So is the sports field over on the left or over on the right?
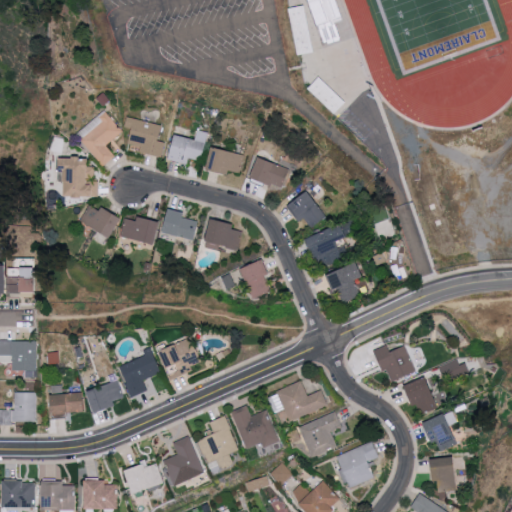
right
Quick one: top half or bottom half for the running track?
top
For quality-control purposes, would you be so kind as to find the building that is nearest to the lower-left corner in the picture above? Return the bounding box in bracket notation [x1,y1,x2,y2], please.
[1,480,34,508]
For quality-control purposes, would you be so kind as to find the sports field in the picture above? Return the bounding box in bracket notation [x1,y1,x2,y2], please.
[370,0,506,78]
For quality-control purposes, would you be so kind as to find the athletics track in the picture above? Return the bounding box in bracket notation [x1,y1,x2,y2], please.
[342,0,512,130]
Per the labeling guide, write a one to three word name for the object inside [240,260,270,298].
house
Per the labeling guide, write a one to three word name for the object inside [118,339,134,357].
swimming pool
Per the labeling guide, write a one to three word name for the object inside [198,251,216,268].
swimming pool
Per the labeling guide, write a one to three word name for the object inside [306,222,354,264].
house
